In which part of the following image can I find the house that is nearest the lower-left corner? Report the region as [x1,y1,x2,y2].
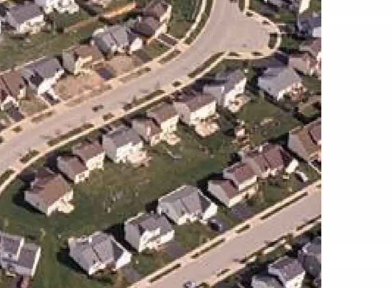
[0,242,43,288]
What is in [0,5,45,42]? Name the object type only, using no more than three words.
house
